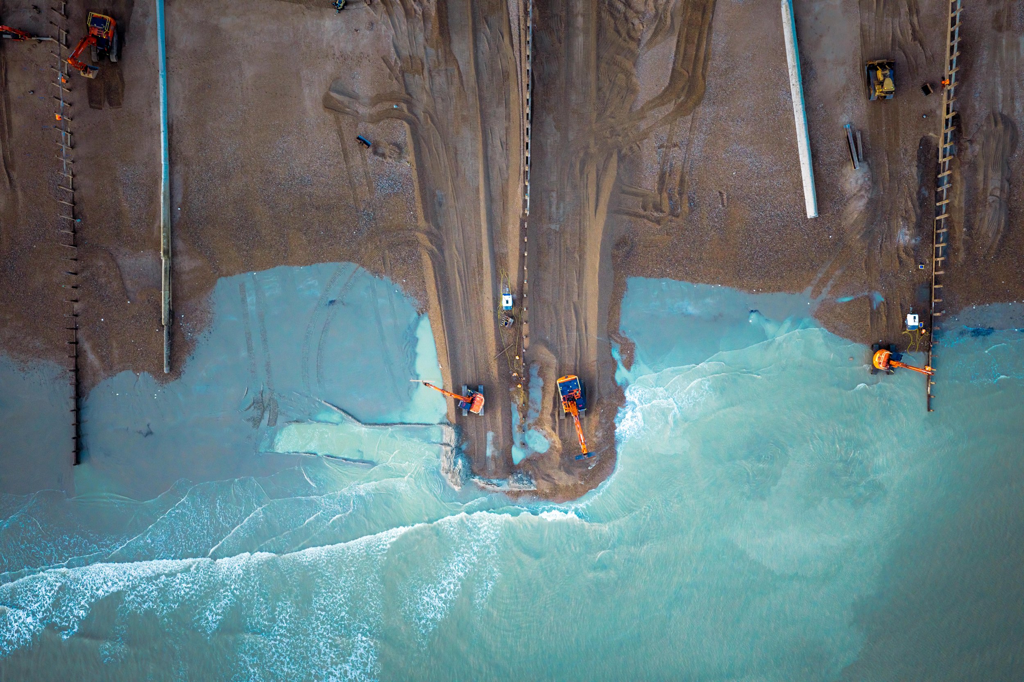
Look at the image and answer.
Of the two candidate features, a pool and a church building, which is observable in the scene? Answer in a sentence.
There is a pool in the scene.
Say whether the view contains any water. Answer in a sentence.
Yes, water shows up in the scene.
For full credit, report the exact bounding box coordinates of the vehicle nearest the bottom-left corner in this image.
[421,382,486,417]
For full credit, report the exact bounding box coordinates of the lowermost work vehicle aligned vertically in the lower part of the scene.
[558,376,595,458]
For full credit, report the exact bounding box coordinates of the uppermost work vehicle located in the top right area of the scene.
[863,64,898,105]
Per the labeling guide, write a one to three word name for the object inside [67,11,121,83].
work vehicle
